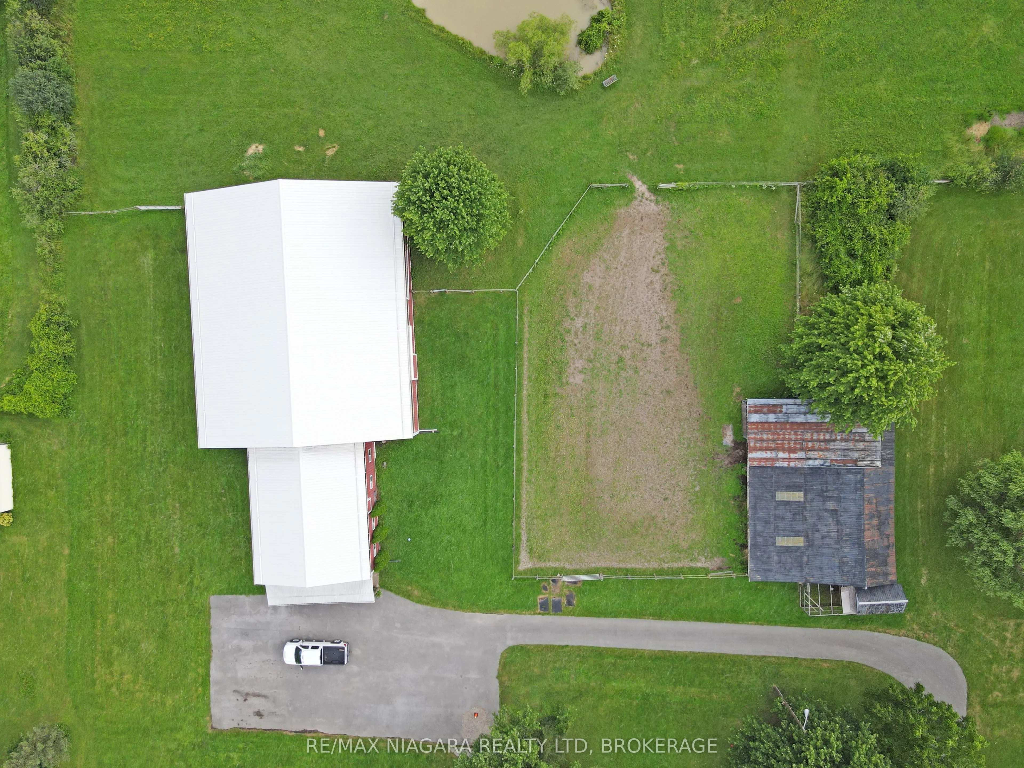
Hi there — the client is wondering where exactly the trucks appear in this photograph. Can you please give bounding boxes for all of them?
[284,639,352,669]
